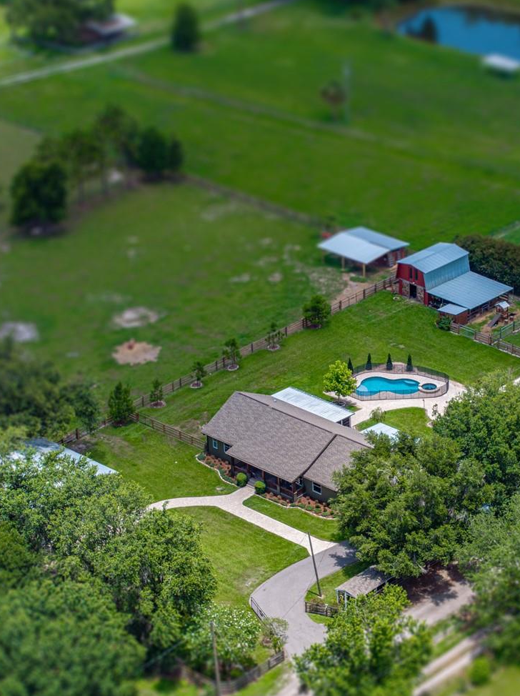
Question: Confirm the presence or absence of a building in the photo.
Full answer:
Yes, a building can be made out from above.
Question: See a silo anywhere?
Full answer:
No, there isn't any silo down there.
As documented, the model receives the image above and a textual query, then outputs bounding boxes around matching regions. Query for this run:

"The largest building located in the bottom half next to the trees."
[202,388,386,513]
